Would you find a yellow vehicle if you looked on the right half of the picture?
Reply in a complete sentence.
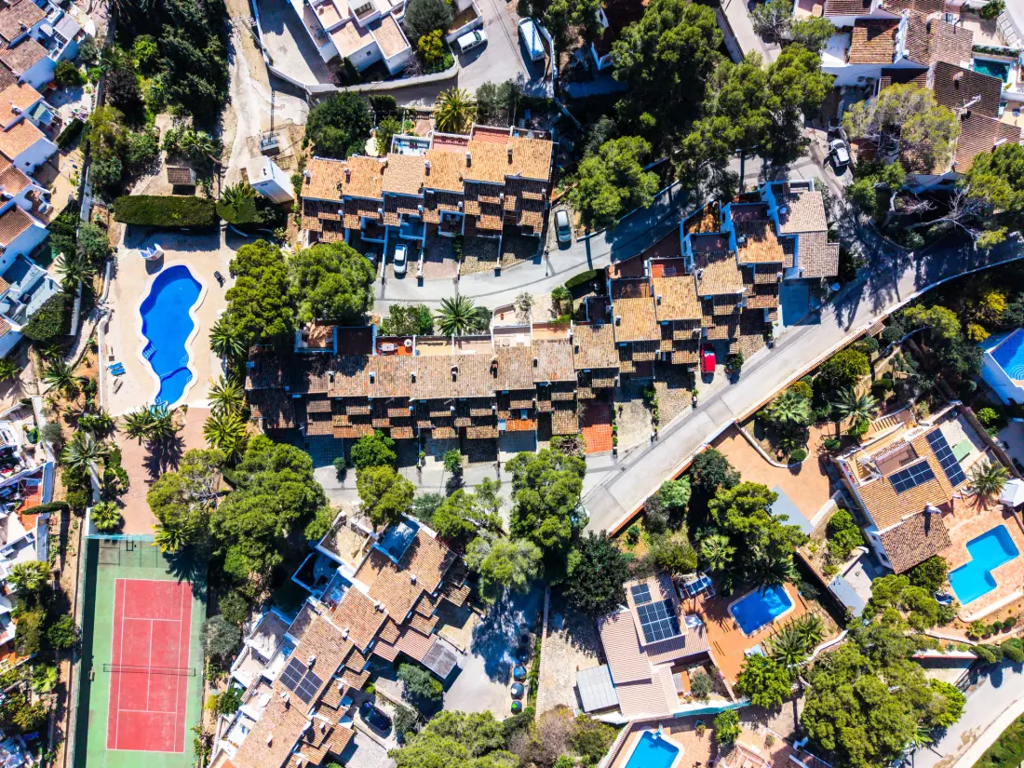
No, looking on the right half of the picture, there is no yellow vehicle.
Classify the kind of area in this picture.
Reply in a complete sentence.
It's a residential area.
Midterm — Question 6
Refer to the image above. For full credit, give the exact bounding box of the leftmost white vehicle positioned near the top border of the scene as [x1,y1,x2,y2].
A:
[455,28,490,52]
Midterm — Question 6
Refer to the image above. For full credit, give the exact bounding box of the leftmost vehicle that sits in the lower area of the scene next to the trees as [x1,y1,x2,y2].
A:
[360,700,390,732]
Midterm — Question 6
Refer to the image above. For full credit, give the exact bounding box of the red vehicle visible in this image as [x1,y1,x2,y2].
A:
[700,344,716,375]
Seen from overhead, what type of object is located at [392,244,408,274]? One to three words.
car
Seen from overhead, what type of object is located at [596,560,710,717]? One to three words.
house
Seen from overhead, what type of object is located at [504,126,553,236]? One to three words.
house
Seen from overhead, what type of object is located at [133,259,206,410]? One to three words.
swimming pool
